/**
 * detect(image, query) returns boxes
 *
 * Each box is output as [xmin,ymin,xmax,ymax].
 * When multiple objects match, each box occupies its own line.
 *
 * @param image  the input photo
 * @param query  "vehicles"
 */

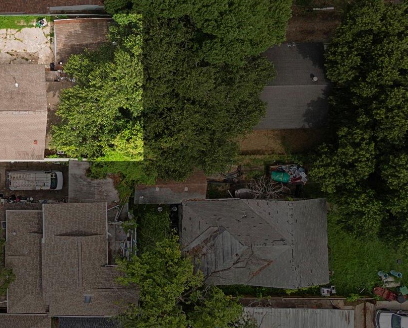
[5,168,63,193]
[374,309,408,328]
